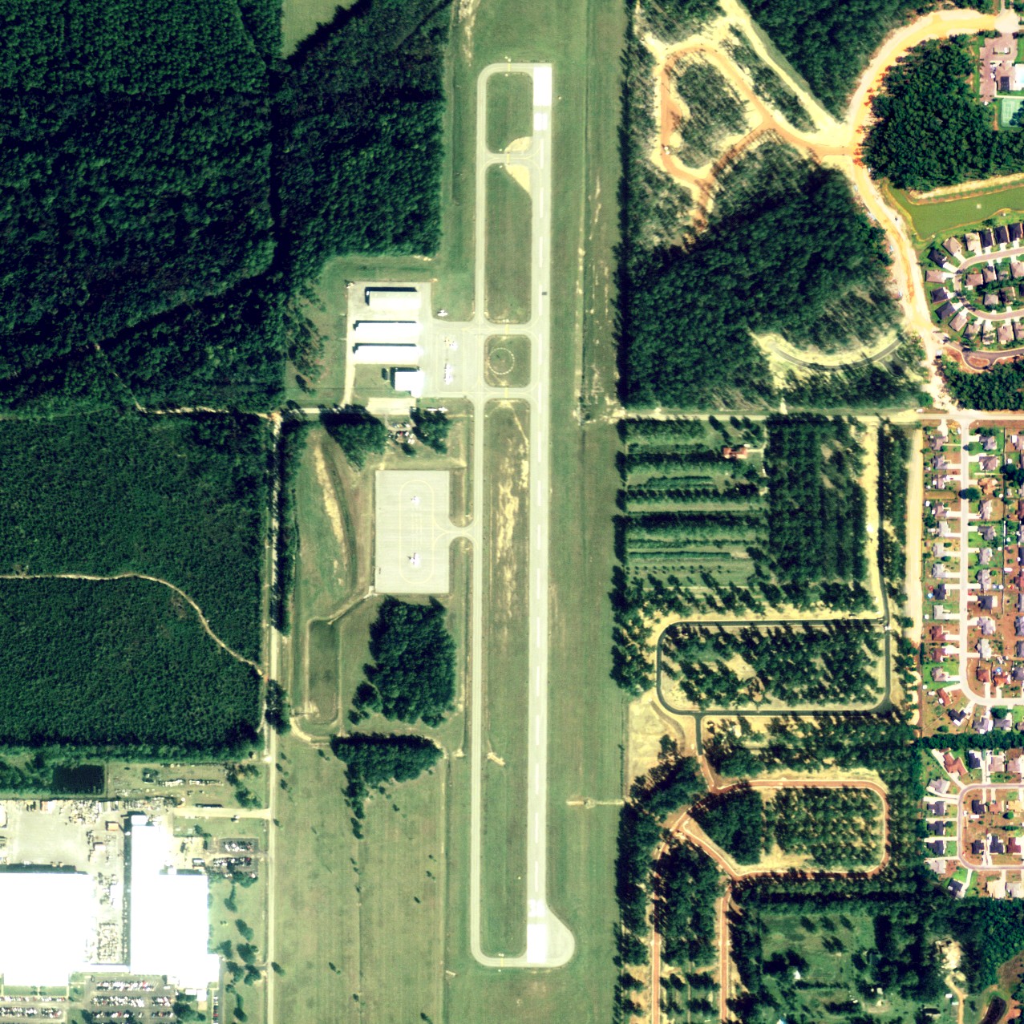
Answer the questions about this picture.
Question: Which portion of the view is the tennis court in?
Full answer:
You can find the tennis court in the top right area of the picture.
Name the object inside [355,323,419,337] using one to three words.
hangar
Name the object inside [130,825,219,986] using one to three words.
building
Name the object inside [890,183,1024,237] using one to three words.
pond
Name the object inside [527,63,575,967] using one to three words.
runway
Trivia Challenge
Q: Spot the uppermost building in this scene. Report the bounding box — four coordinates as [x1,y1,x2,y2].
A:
[999,64,1015,90]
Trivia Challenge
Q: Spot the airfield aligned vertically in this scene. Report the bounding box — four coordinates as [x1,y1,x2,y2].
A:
[348,63,575,967]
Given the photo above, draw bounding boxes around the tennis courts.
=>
[1002,98,1024,127]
